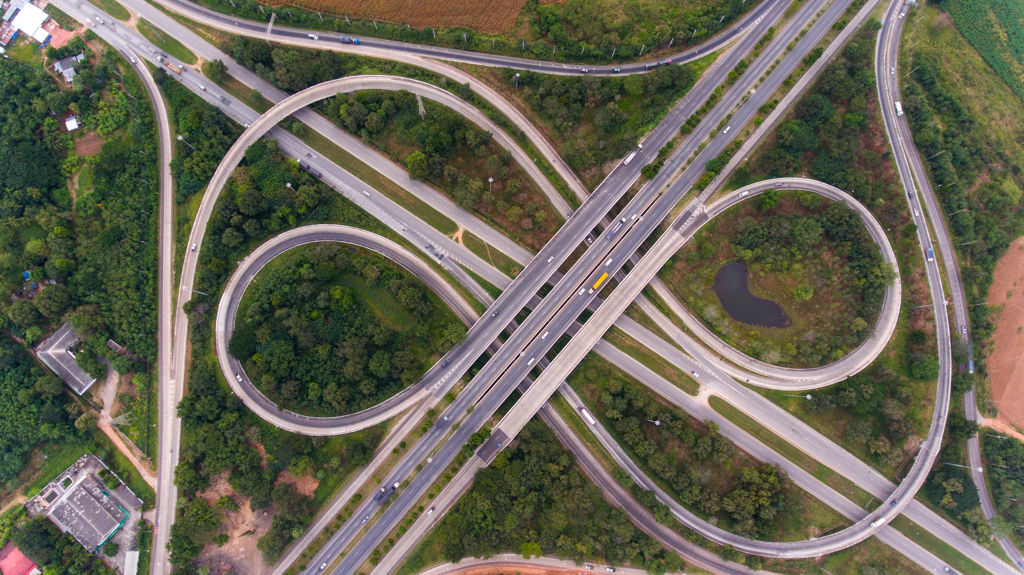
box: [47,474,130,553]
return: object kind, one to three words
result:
building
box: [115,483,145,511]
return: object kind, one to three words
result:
shed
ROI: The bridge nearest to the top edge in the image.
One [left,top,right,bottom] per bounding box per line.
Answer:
[235,74,368,152]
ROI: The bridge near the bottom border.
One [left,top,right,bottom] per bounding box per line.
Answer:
[822,448,937,553]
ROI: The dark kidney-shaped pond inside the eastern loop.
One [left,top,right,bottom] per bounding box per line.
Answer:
[715,261,793,329]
